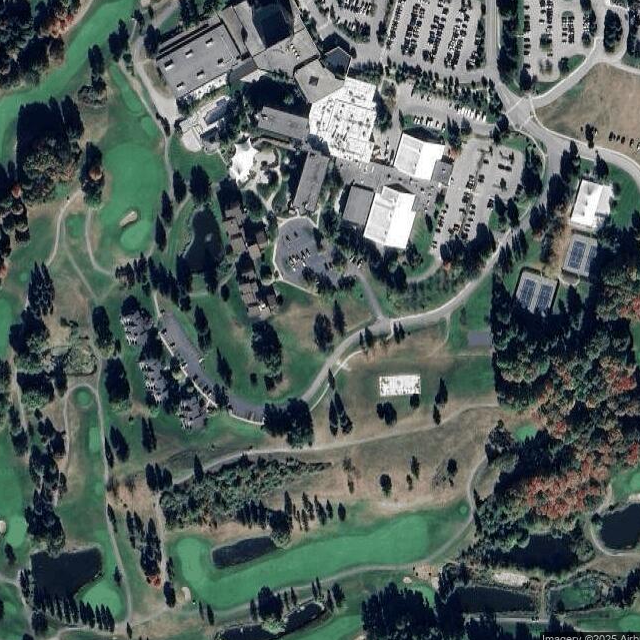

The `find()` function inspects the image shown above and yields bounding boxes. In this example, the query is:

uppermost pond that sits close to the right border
[599,503,640,548]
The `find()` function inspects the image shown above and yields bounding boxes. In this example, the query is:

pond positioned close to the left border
[31,545,102,597]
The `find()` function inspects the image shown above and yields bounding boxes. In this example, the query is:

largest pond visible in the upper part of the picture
[185,207,223,273]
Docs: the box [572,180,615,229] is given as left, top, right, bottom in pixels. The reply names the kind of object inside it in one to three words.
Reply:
building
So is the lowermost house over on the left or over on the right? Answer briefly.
left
